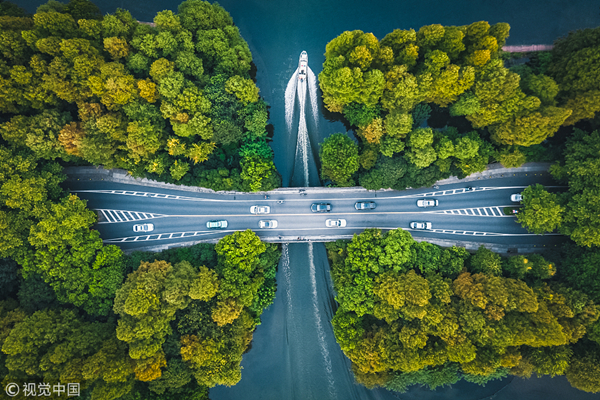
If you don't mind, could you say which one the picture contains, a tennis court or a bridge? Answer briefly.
bridge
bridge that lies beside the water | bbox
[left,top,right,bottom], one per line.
[259,186,349,243]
